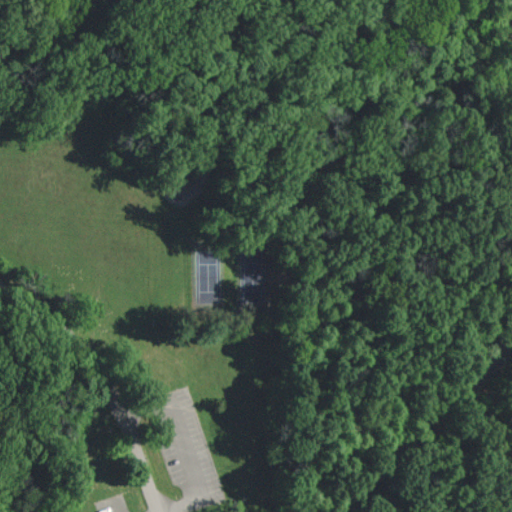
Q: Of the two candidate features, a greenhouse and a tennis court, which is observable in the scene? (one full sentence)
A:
Looking from above, you can make out a tennis court.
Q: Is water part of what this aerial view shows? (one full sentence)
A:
No, the picture contains no water.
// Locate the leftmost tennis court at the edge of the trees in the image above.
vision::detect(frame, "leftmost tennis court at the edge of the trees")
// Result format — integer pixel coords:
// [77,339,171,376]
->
[194,250,221,308]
